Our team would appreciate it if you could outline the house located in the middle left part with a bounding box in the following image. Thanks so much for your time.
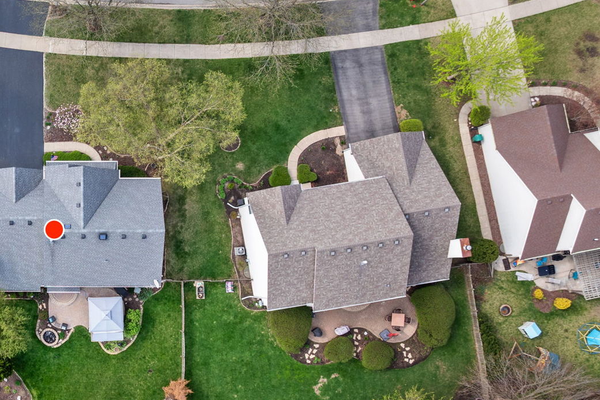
[0,159,165,295]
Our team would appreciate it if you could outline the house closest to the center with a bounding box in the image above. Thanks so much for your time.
[227,129,472,312]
